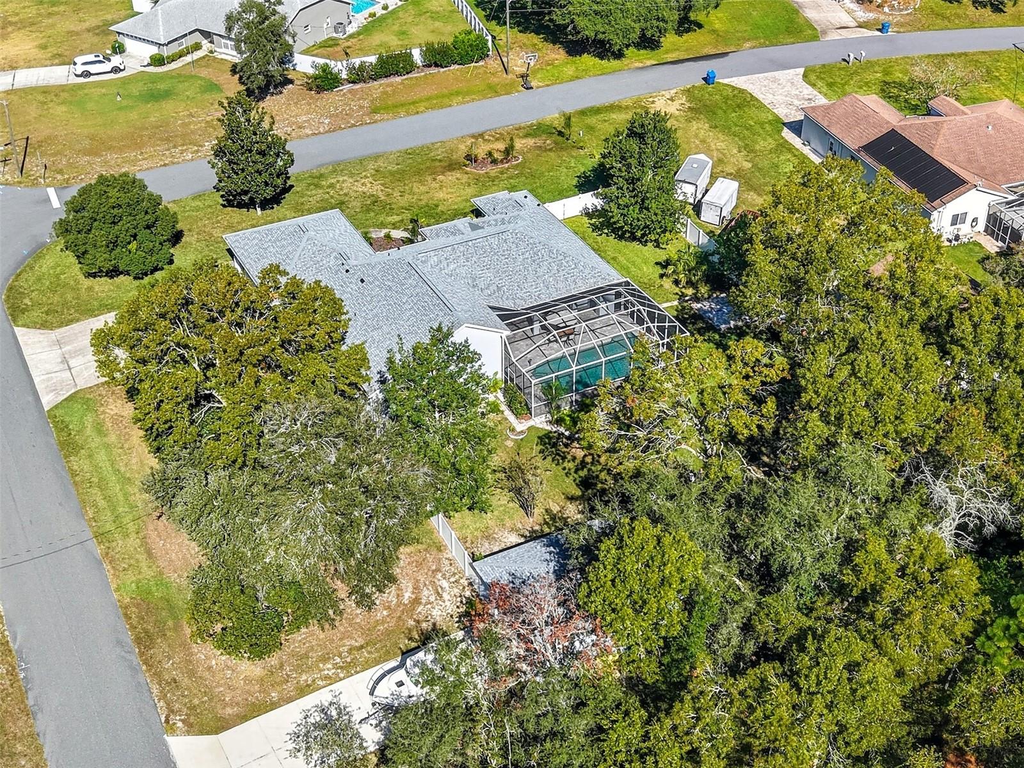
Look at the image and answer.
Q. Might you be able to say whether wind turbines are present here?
No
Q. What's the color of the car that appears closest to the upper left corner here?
white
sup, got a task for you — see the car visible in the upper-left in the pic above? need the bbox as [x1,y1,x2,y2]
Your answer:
[67,50,125,78]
